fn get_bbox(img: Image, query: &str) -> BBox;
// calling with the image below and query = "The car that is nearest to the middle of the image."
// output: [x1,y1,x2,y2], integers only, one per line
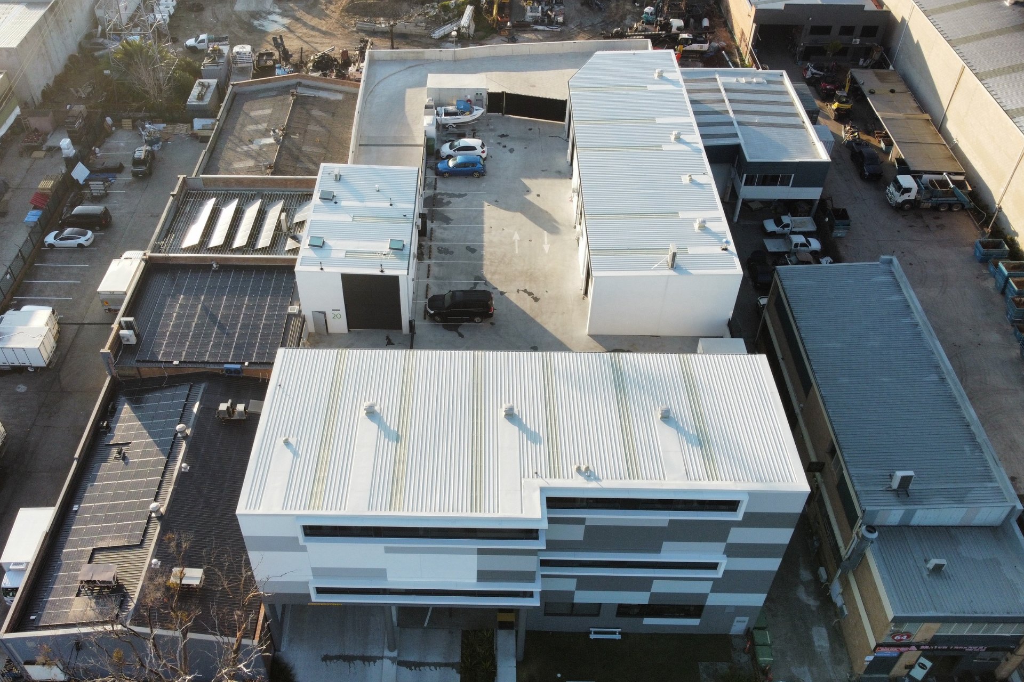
[427,286,495,321]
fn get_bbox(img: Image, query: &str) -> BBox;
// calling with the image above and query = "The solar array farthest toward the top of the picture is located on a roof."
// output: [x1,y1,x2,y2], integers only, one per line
[180,199,310,248]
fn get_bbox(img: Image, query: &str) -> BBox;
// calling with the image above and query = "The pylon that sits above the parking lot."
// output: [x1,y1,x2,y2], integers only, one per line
[92,0,185,88]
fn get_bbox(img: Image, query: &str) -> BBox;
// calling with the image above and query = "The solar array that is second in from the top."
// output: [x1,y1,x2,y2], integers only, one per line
[131,265,298,366]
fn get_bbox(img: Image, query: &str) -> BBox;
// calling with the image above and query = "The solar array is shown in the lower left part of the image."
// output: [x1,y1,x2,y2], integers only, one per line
[21,383,193,621]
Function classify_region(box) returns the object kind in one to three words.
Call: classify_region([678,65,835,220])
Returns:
building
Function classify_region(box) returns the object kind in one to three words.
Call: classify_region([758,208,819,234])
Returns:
truck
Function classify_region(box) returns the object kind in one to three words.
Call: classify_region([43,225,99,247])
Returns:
car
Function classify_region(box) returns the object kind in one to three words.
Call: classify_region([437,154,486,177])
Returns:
car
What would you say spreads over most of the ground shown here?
buildings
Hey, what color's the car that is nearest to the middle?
black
